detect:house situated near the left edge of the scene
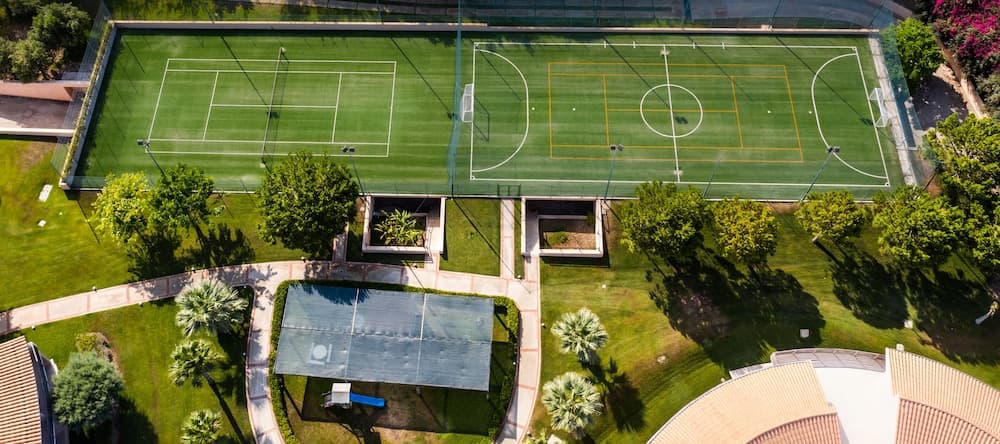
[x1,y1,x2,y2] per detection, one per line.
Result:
[0,334,92,444]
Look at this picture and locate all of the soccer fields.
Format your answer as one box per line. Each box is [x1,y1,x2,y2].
[448,30,907,202]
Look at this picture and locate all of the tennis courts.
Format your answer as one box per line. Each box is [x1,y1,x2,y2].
[72,27,459,194]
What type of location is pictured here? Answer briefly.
sports ground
